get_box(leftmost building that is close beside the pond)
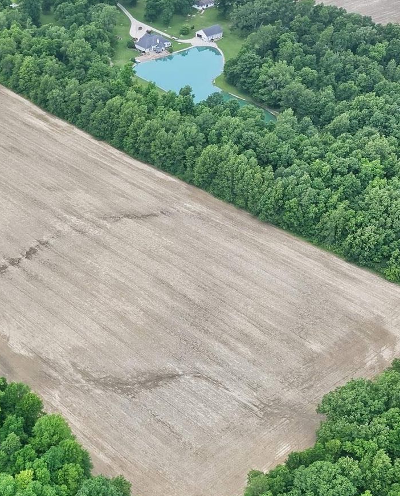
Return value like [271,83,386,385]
[132,32,171,54]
